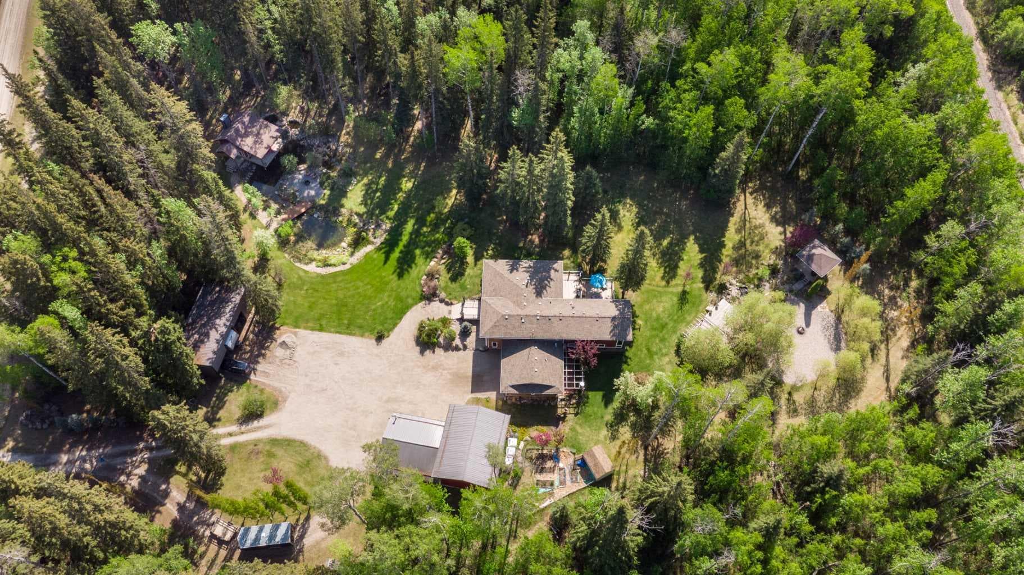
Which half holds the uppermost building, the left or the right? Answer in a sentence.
You can find the uppermost building on the left side of the picture.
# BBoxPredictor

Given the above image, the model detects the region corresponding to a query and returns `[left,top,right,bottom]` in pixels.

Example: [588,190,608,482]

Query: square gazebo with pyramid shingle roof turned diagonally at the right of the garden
[795,239,842,280]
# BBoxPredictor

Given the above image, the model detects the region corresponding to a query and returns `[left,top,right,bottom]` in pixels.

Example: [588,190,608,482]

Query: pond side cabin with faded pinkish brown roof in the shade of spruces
[212,108,294,180]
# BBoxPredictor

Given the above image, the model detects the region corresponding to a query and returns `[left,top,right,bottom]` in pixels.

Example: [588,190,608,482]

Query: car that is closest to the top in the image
[220,357,255,375]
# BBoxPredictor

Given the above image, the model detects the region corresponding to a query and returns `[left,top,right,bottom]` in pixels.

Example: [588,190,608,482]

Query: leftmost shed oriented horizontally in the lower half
[237,522,293,549]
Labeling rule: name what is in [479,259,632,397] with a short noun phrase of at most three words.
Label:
house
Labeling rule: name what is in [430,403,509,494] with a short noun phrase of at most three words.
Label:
building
